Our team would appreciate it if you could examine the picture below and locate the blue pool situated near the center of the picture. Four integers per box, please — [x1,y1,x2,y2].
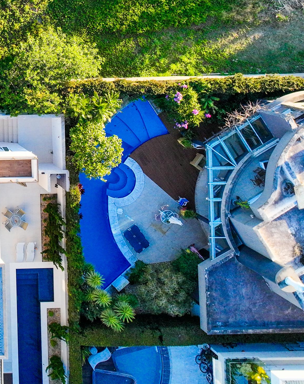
[79,97,170,289]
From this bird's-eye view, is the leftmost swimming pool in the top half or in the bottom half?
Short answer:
bottom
